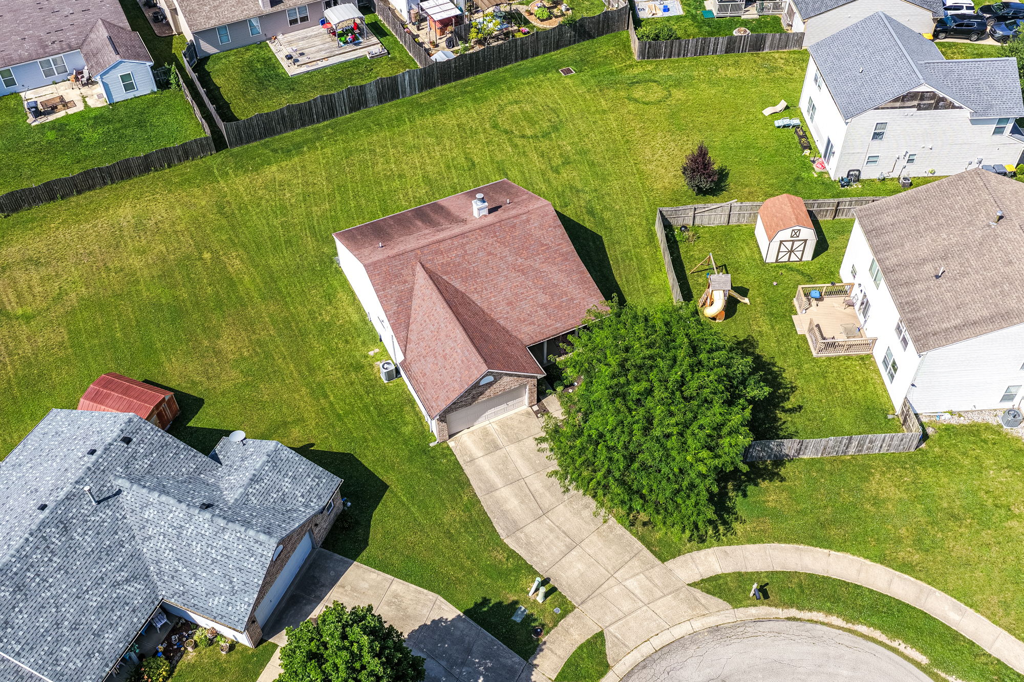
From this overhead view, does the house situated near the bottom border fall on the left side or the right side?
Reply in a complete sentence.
The house situated near the bottom border appears in the left half of the scene.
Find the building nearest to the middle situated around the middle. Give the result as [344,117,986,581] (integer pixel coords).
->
[329,177,612,449]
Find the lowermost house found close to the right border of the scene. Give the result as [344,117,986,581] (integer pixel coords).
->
[839,167,1024,416]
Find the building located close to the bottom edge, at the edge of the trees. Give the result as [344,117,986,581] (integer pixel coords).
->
[0,411,346,682]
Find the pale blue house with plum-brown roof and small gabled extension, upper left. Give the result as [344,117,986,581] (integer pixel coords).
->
[0,0,158,103]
